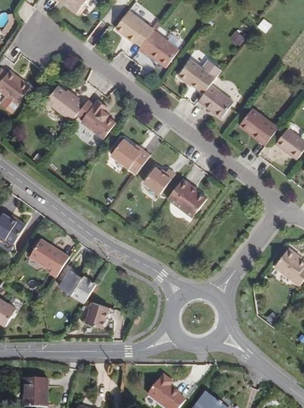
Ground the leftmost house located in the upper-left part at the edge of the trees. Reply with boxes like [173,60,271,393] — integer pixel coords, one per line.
[0,67,32,111]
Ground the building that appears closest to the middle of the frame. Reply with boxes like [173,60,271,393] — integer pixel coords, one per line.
[146,167,176,200]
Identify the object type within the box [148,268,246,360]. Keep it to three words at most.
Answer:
roundabout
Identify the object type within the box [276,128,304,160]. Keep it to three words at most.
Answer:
house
